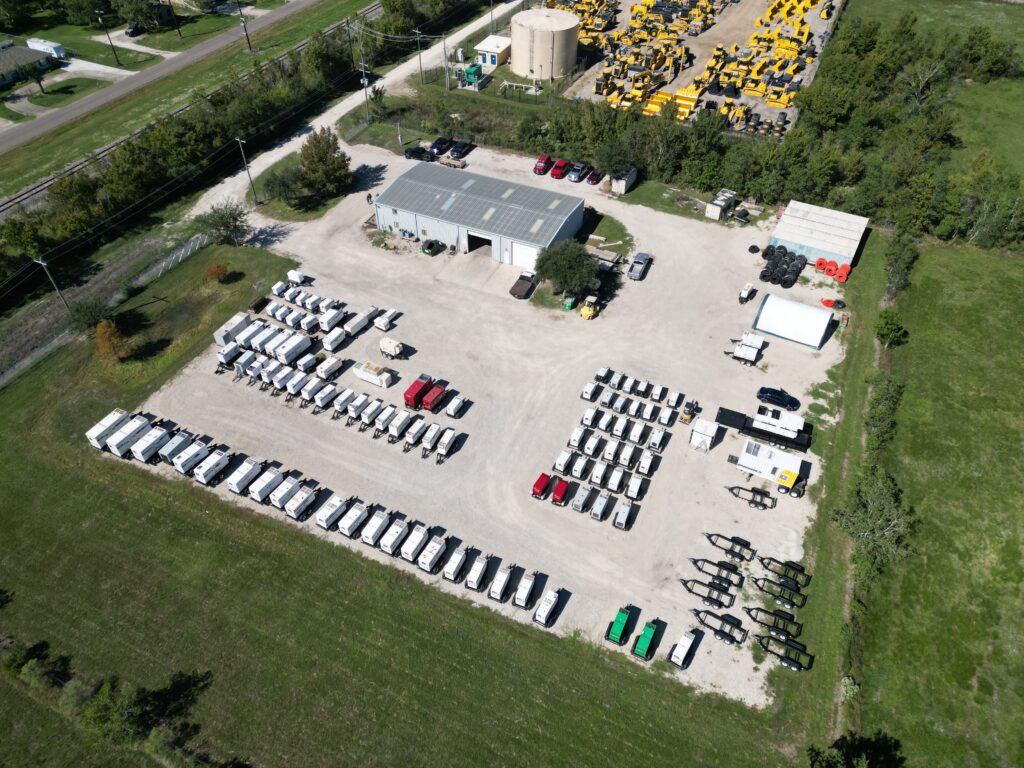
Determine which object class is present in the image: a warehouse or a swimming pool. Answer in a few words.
warehouse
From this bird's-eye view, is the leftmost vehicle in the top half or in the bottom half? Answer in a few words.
top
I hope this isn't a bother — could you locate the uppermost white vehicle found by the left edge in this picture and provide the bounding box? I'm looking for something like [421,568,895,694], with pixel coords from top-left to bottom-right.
[28,38,70,60]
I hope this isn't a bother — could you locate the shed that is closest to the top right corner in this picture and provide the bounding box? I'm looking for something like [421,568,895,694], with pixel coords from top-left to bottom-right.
[770,199,869,264]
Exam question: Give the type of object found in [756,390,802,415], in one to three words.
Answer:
car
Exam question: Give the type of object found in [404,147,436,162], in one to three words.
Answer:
vehicle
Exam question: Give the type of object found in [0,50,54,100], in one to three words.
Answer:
house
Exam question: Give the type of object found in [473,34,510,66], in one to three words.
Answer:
building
